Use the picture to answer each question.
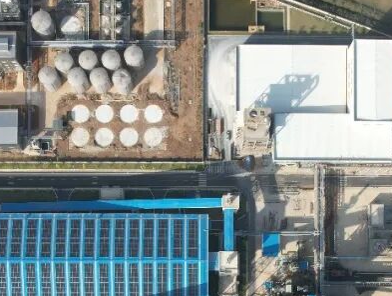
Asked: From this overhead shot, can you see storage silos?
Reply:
Yes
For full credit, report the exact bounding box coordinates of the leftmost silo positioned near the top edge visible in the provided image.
[31,8,60,42]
